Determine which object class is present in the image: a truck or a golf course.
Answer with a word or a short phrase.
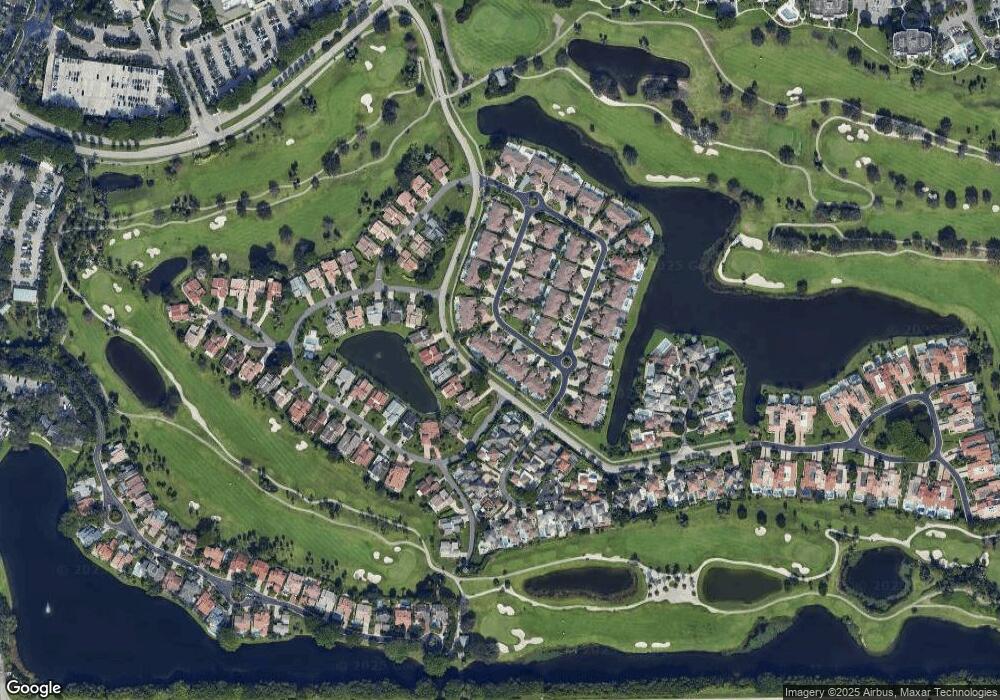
golf course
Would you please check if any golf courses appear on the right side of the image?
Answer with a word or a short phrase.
Yes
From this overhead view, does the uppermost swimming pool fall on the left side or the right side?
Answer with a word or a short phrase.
right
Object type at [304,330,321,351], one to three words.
swimming pool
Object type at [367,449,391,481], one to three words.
house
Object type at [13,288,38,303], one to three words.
shed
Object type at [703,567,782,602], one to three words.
pond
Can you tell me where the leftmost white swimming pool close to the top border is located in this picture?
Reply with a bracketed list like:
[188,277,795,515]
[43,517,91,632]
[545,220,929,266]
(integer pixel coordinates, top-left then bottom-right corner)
[778,0,801,22]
